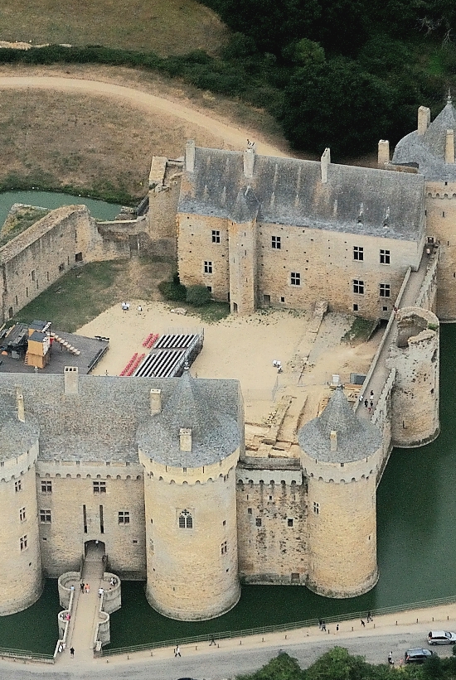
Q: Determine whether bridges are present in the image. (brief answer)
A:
Yes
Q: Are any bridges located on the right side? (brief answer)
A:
No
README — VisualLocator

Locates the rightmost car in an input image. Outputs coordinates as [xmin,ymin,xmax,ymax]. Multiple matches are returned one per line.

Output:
[426,628,456,646]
